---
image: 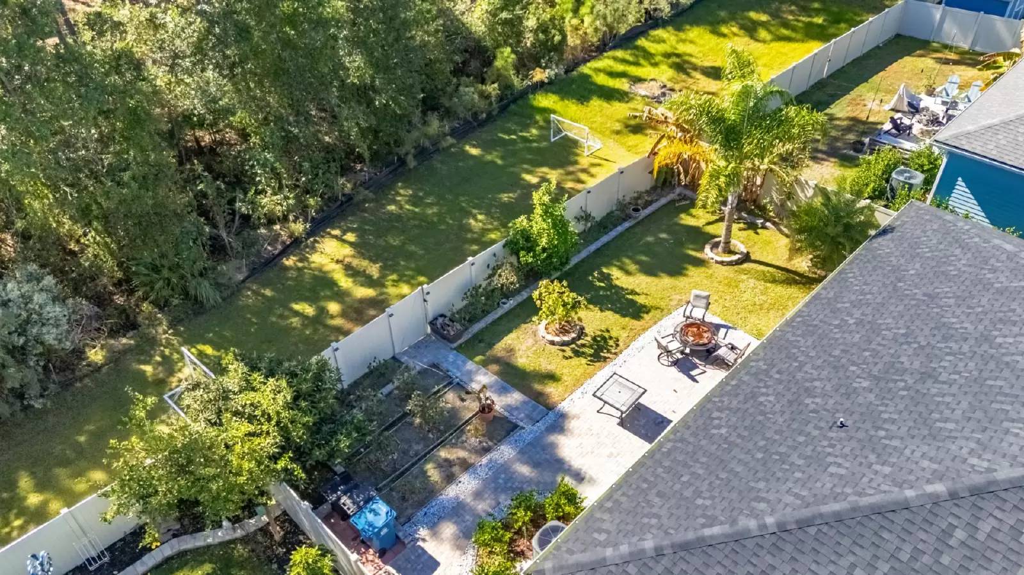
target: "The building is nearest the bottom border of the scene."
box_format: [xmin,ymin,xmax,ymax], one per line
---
[517,200,1024,575]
